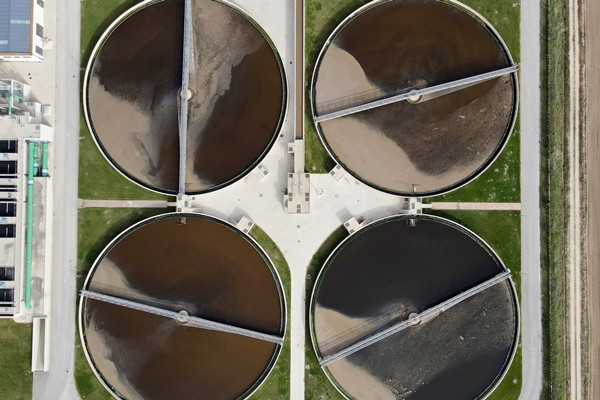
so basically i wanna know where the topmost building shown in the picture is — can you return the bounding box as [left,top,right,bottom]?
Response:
[0,0,43,61]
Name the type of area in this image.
industrial area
